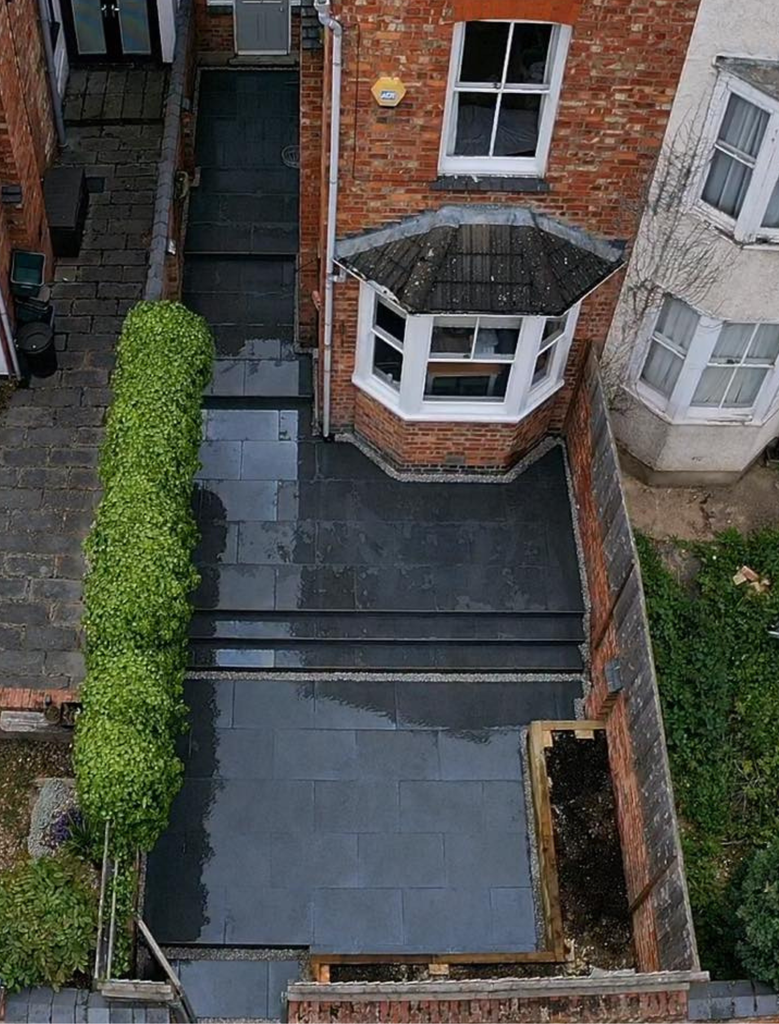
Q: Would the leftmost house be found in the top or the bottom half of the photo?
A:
top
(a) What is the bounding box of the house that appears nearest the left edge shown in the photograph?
[0,0,179,377]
